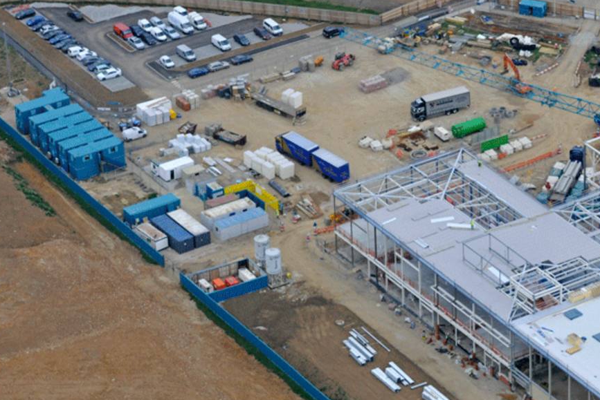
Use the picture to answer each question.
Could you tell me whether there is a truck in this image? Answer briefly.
Yes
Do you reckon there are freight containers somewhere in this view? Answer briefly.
Yes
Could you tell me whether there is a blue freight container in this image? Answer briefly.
Yes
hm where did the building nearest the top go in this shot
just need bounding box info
[520,0,549,19]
